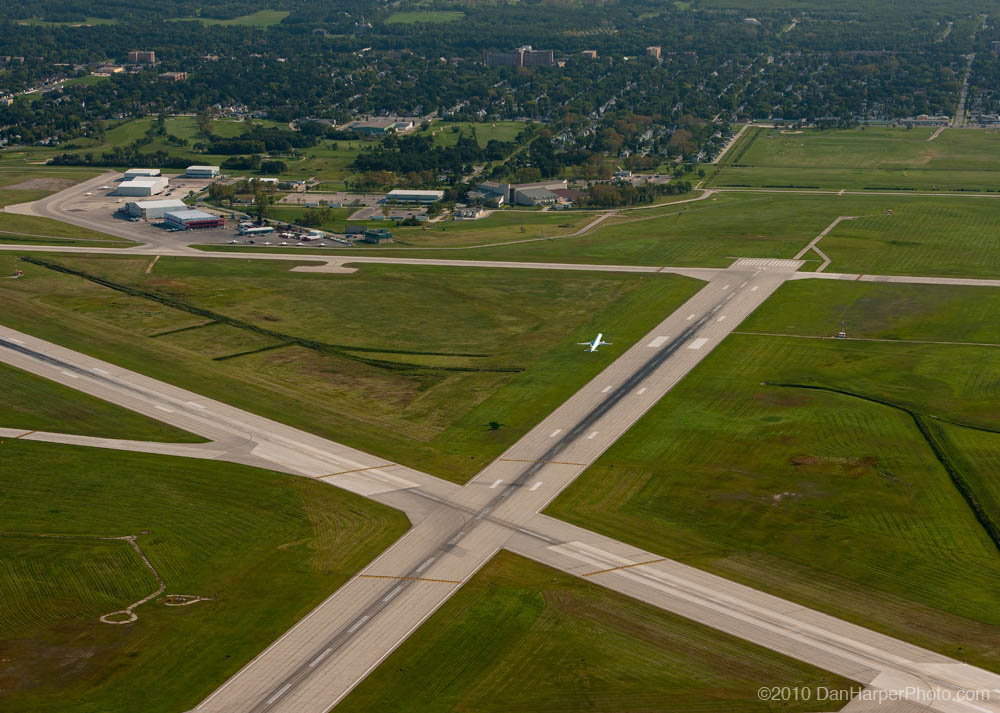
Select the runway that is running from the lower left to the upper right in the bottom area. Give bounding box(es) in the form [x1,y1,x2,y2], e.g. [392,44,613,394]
[187,257,809,713]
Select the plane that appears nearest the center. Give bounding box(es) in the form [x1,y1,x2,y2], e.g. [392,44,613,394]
[576,333,611,350]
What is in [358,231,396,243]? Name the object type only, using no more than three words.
building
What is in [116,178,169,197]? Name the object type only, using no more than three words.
hangar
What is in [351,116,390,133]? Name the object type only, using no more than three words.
building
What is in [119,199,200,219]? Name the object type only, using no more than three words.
hangar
